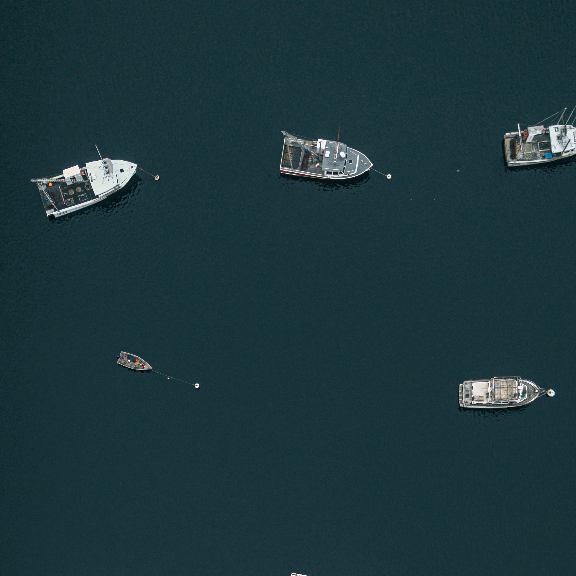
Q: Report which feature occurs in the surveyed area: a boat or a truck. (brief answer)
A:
boat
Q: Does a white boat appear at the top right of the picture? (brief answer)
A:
Yes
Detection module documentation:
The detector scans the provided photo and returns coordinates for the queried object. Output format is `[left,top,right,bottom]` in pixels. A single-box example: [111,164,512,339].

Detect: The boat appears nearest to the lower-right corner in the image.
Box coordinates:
[460,376,544,408]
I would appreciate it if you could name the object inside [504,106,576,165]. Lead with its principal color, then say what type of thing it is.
white boat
